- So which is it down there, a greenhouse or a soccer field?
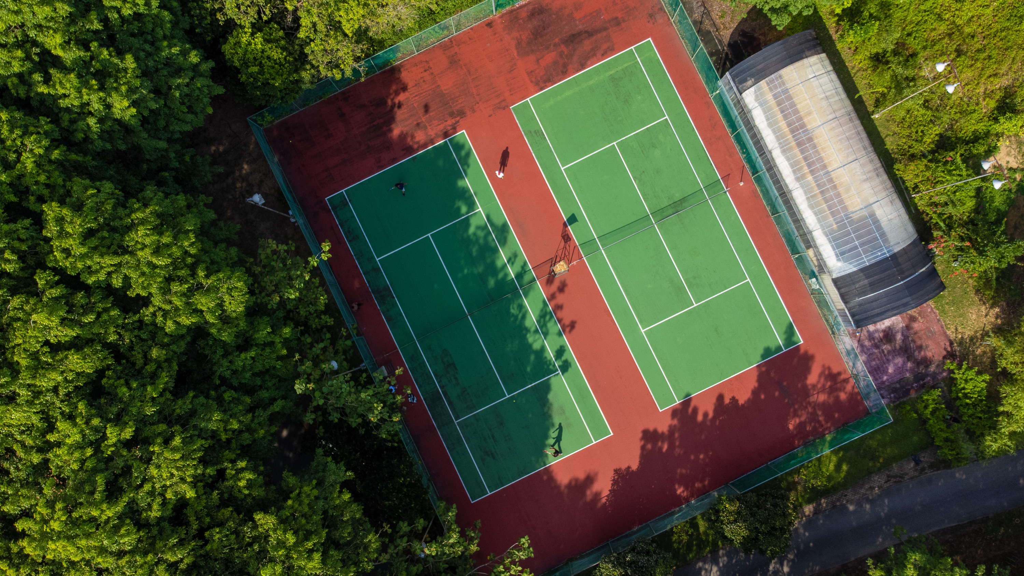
greenhouse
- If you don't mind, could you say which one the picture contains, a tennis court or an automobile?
tennis court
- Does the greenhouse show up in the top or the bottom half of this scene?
top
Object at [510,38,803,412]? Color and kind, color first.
green tennis court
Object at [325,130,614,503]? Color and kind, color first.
green tennis court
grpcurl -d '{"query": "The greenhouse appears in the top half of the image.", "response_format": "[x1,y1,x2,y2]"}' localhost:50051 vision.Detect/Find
[724,29,945,328]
